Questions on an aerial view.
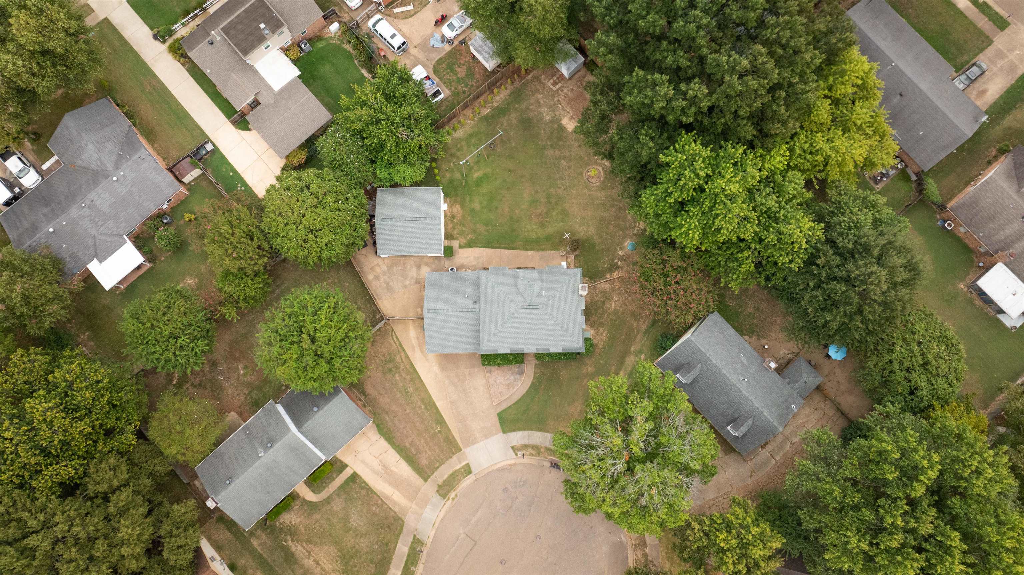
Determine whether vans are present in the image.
Yes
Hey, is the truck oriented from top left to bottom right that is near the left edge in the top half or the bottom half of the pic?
top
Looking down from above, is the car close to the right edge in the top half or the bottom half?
top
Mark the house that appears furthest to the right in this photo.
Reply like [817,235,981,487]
[941,132,1024,320]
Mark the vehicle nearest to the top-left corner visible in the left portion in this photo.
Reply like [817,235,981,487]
[0,141,38,191]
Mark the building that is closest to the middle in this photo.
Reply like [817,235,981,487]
[423,266,588,355]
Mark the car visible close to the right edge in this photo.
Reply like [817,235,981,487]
[953,55,996,91]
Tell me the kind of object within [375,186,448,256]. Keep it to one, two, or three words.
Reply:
building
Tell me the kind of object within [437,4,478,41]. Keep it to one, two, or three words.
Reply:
car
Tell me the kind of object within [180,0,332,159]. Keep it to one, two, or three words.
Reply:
house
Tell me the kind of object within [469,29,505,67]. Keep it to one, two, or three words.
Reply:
shed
